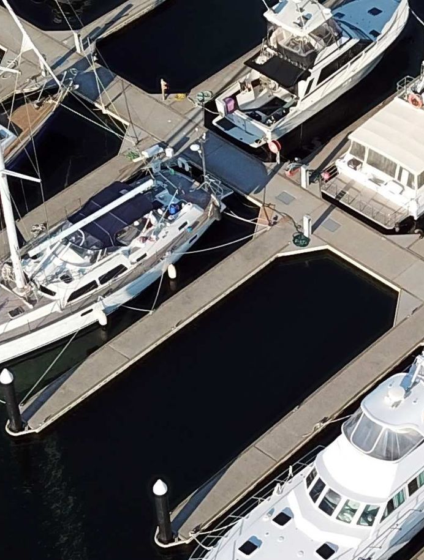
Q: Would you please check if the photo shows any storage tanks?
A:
No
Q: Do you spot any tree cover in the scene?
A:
No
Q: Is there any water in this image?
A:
Yes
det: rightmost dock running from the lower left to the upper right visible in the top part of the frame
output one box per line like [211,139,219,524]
[257,68,424,194]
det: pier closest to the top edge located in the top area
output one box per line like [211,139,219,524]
[43,0,172,62]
